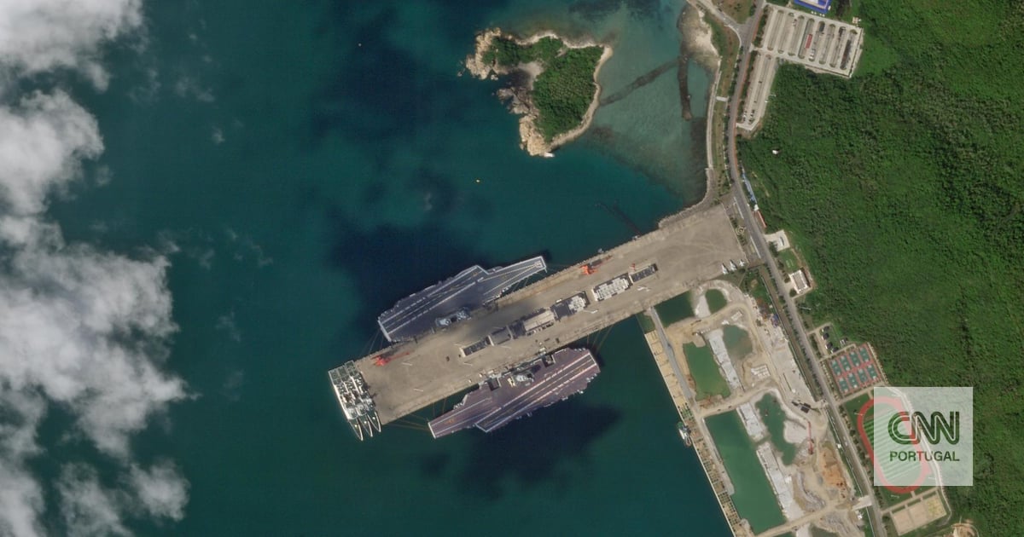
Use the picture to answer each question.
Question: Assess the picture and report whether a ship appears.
Yes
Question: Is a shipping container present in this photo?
No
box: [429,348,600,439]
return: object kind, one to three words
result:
ship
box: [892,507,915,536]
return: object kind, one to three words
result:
sports court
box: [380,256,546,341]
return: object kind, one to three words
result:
ship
